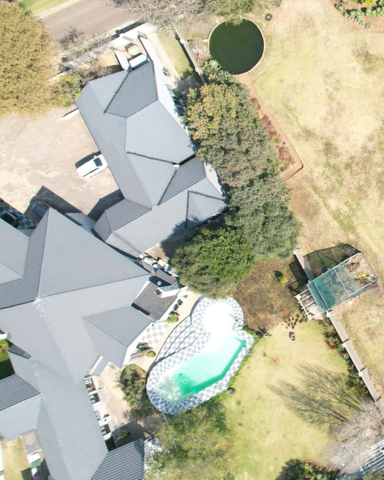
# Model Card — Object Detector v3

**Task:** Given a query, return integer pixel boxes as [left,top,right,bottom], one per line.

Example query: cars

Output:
[28,203,47,218]
[77,155,105,177]
[2,209,30,229]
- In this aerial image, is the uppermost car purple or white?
white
